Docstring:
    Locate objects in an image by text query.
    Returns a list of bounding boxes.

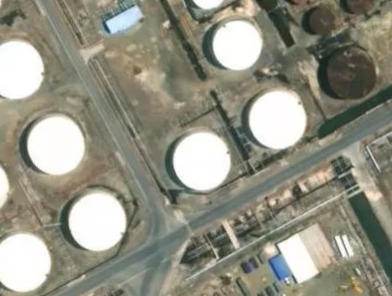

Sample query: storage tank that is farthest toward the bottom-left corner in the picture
[0,232,52,294]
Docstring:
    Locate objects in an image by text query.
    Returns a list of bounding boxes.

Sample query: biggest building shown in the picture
[276,222,337,283]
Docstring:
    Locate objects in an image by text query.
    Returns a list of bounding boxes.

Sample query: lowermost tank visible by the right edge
[325,47,379,102]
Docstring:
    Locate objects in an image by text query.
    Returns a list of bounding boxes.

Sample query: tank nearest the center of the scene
[172,131,233,193]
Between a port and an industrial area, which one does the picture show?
industrial area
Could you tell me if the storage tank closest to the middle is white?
Yes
